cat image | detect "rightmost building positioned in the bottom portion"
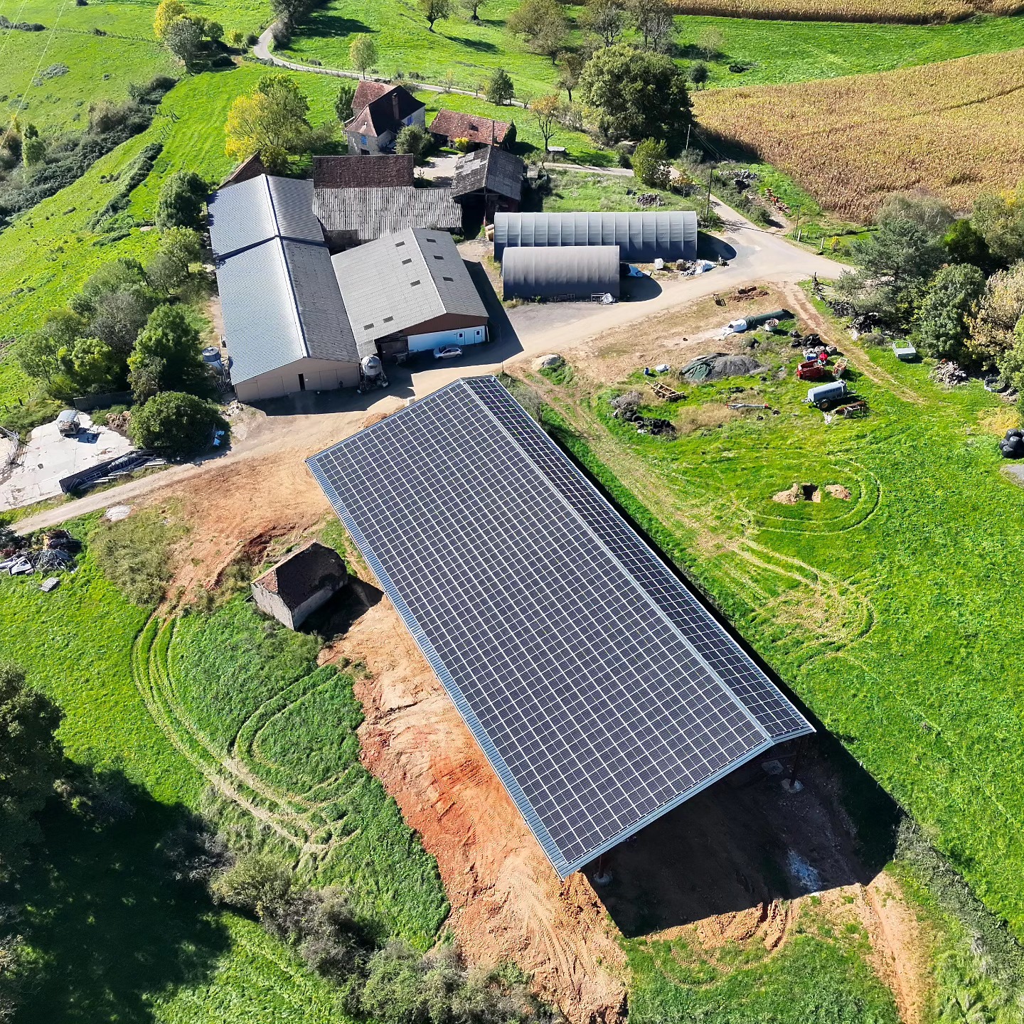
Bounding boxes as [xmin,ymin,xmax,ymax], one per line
[305,375,817,882]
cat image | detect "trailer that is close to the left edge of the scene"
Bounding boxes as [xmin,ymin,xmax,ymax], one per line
[45,402,86,440]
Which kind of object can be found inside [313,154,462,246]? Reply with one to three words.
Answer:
barn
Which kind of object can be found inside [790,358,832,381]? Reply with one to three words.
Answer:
trailer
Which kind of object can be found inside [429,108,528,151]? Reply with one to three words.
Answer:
shed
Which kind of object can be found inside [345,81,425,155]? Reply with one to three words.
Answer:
house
